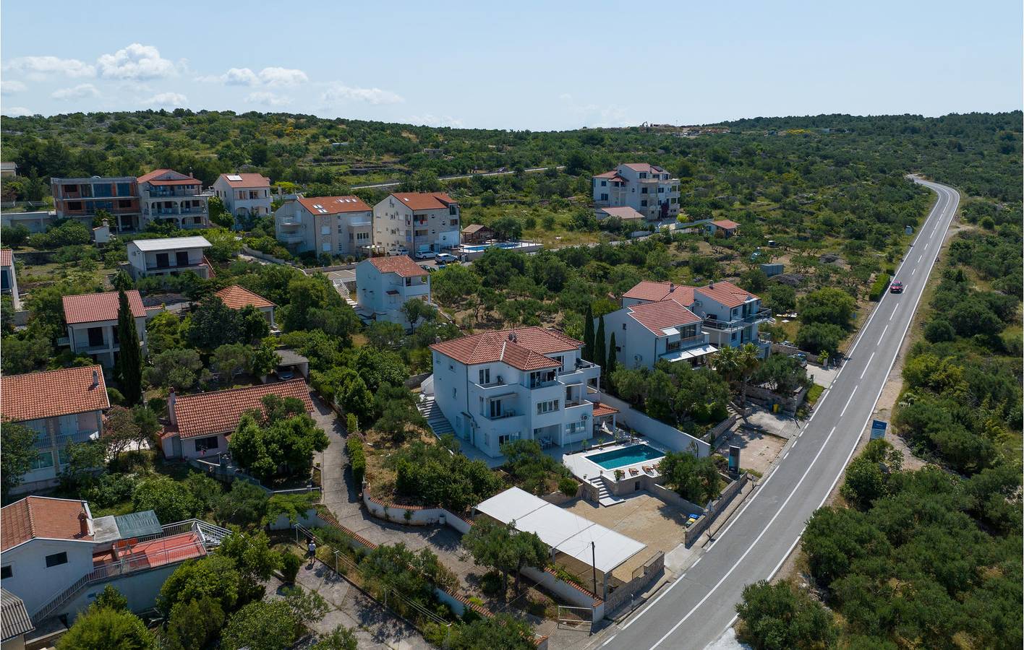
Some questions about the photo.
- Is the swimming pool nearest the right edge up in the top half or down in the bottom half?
bottom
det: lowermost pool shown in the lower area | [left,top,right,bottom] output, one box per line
[582,442,671,471]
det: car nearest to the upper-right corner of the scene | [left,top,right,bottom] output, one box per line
[889,279,904,291]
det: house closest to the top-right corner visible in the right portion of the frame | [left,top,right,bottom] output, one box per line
[709,217,741,235]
